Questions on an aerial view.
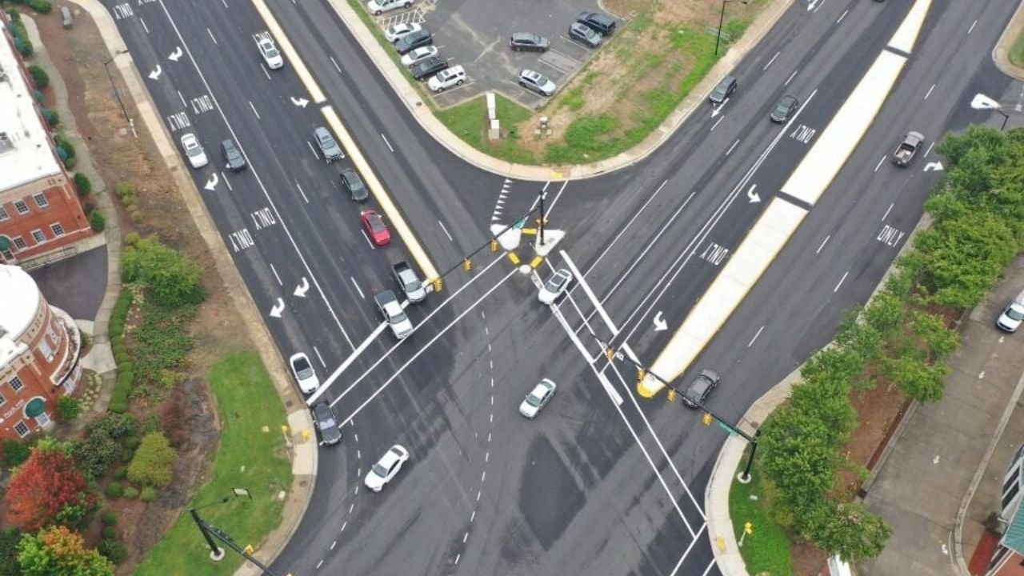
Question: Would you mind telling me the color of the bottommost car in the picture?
white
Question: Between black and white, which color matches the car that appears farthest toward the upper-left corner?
white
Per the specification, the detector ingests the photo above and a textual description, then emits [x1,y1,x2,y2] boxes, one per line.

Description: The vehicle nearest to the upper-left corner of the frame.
[179,131,208,168]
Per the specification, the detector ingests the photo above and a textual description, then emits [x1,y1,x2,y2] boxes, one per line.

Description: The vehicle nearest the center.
[538,267,574,307]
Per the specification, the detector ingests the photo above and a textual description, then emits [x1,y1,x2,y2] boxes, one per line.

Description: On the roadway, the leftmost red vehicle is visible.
[360,209,391,247]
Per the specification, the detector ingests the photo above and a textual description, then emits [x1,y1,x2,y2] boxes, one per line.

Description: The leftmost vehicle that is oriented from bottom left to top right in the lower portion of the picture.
[365,443,409,494]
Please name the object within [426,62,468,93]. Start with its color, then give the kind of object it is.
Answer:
white car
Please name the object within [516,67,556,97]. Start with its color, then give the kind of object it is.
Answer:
white car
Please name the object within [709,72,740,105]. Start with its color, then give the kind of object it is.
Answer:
gray car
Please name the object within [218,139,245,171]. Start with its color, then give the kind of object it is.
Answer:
gray car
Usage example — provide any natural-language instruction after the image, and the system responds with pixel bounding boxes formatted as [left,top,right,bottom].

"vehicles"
[510,34,550,55]
[426,62,468,93]
[288,351,321,397]
[311,401,343,446]
[365,443,409,494]
[373,287,415,340]
[410,53,451,81]
[577,9,617,35]
[538,267,574,307]
[709,72,740,105]
[383,20,424,42]
[312,125,342,162]
[681,367,719,412]
[770,94,800,125]
[400,44,440,68]
[566,20,604,49]
[516,67,556,97]
[890,131,925,169]
[179,131,208,168]
[395,28,435,55]
[258,37,284,67]
[517,376,558,422]
[218,139,245,171]
[339,167,369,204]
[360,209,391,247]
[388,255,428,306]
